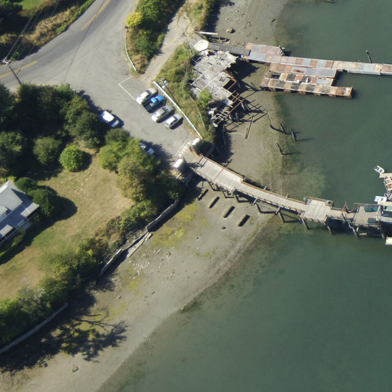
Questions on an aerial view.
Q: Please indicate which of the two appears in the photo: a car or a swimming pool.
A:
car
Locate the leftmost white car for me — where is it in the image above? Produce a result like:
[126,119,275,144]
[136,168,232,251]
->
[101,109,119,126]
